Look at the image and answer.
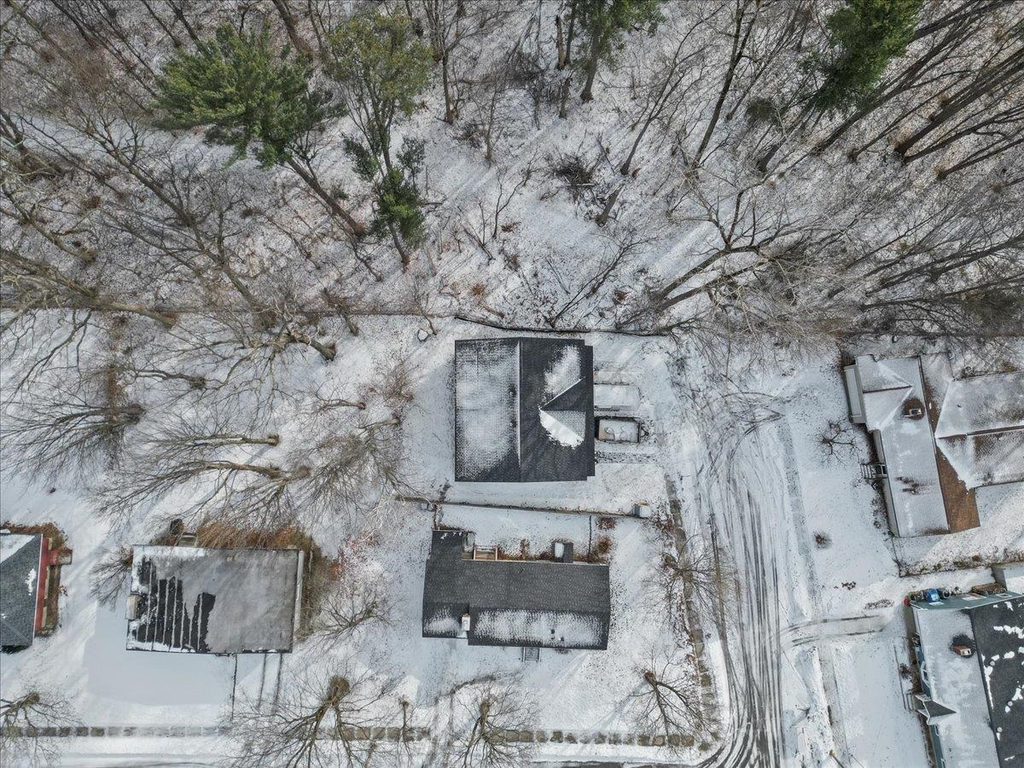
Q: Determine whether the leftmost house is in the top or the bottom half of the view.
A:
bottom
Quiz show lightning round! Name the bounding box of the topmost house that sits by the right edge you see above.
[832,352,1024,537]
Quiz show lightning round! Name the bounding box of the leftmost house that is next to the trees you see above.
[0,531,81,647]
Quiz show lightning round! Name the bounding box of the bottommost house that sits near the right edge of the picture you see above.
[903,588,1024,768]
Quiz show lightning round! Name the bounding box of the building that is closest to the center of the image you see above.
[455,338,594,482]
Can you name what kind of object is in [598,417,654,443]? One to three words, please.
trailer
